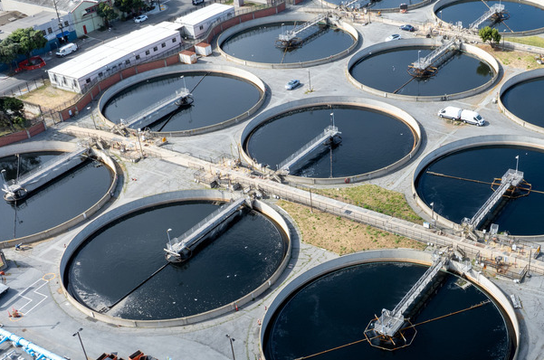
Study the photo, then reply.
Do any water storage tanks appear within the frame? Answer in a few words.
Yes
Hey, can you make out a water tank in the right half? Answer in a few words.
Yes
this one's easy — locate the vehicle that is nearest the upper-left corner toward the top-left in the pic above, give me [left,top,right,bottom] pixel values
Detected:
[58,43,71,57]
